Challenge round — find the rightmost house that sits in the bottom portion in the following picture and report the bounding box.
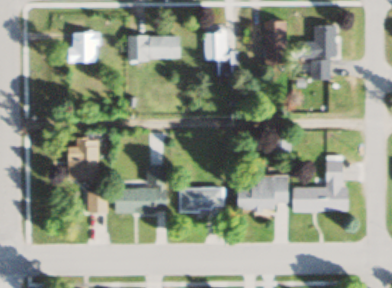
[293,154,350,214]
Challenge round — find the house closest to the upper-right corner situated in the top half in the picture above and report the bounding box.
[300,24,336,80]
